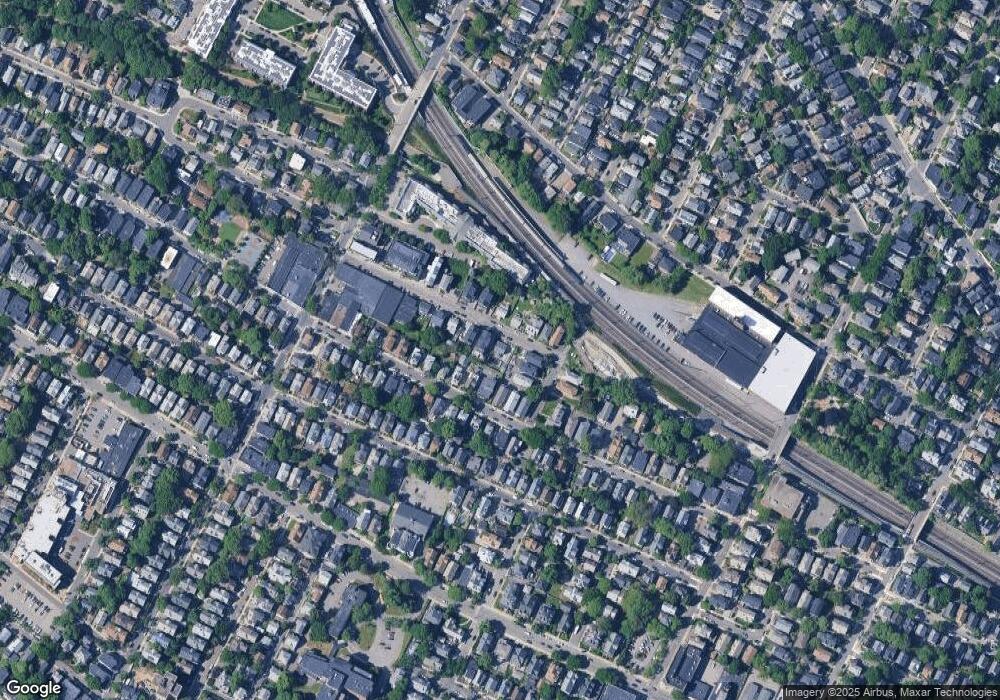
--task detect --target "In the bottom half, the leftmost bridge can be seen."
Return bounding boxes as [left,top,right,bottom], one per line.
[761,404,803,471]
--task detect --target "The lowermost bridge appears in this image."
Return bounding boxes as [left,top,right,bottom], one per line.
[904,479,948,548]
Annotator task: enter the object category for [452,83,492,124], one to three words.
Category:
building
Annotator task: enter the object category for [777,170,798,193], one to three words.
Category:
house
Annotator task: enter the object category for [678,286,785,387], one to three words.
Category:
building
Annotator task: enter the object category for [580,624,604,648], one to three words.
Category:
house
